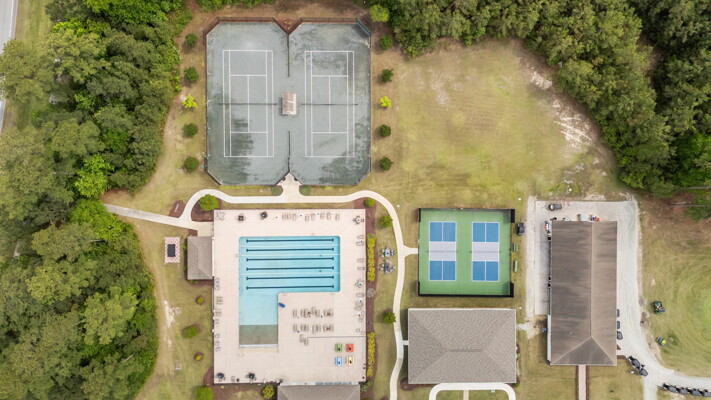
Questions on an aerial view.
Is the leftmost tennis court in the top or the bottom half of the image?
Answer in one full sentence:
Seen from above, the leftmost tennis court lies in the top half of the view.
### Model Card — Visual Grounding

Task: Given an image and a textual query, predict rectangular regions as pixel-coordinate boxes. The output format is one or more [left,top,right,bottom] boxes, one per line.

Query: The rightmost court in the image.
[465,209,512,294]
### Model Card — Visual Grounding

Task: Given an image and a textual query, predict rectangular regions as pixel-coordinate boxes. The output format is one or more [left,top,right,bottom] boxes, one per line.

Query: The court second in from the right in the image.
[421,209,465,294]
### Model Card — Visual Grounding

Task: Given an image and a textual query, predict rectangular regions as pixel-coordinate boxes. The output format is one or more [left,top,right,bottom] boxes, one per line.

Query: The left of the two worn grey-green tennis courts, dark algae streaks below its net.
[206,22,289,185]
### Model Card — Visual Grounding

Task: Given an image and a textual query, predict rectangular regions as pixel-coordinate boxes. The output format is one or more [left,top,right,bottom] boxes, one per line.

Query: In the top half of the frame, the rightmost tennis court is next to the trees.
[289,23,371,185]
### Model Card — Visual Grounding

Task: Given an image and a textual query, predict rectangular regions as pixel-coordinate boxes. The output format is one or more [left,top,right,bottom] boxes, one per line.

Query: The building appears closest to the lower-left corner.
[187,236,216,280]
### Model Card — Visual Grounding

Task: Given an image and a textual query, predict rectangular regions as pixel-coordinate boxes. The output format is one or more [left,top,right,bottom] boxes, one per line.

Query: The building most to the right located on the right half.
[542,221,617,365]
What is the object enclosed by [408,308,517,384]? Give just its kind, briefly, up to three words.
building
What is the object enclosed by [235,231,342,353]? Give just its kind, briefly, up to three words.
swimming pool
